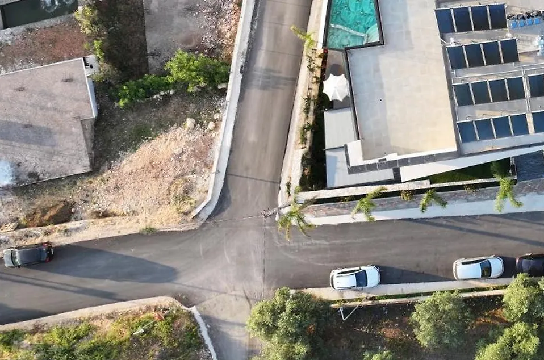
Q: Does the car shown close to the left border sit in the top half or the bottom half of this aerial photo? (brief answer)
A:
bottom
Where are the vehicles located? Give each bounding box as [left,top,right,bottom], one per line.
[330,263,381,291]
[4,242,55,269]
[454,255,504,281]
[516,251,544,275]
